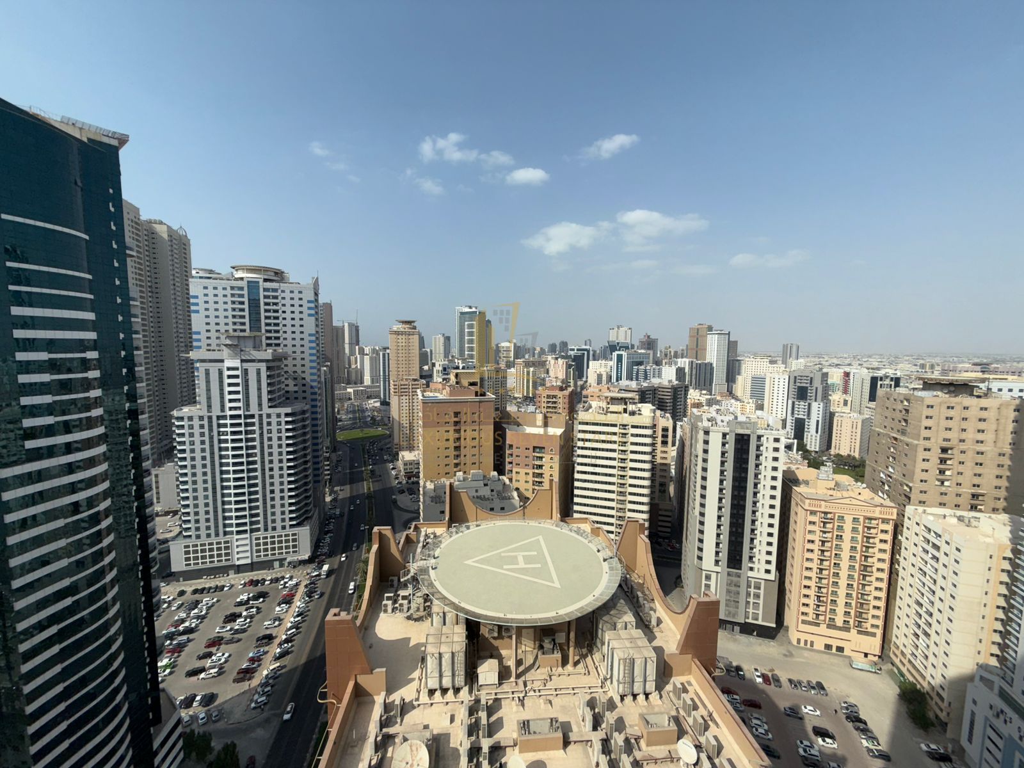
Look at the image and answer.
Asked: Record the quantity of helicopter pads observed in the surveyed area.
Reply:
1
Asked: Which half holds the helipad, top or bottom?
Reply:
bottom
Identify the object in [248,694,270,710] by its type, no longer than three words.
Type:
car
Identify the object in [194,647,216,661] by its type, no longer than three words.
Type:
car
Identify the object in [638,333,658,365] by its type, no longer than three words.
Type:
building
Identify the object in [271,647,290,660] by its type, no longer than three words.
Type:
vehicle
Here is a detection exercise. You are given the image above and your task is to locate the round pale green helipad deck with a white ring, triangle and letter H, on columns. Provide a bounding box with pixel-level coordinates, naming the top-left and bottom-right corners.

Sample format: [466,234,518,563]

[418,510,625,687]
